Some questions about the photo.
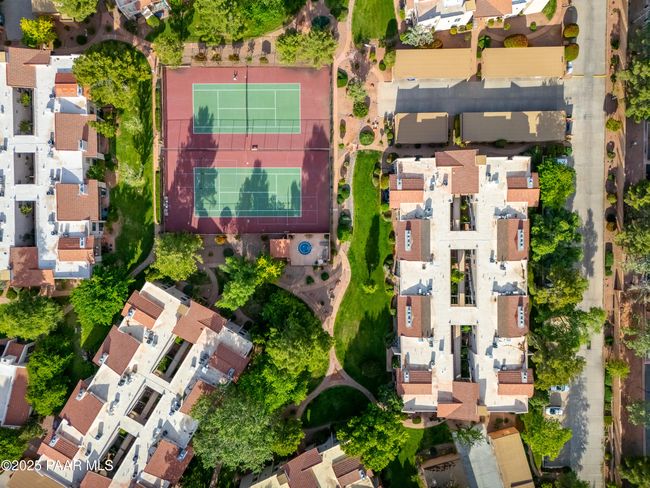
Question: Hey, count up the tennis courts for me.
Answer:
2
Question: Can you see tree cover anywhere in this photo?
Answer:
Yes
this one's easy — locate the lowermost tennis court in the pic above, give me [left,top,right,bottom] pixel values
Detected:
[164,150,331,234]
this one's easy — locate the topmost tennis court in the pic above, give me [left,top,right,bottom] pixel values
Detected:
[164,65,331,150]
